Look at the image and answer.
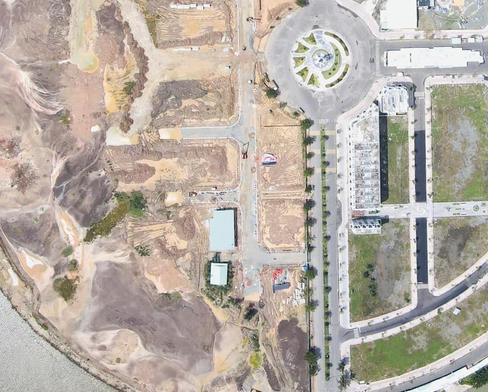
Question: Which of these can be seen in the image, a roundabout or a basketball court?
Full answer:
It is a roundabout that can be seen here.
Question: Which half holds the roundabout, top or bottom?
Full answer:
The roundabout sits in the top half of the picture.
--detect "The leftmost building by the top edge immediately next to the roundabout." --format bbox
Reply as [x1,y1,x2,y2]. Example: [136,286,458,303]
[379,0,417,28]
